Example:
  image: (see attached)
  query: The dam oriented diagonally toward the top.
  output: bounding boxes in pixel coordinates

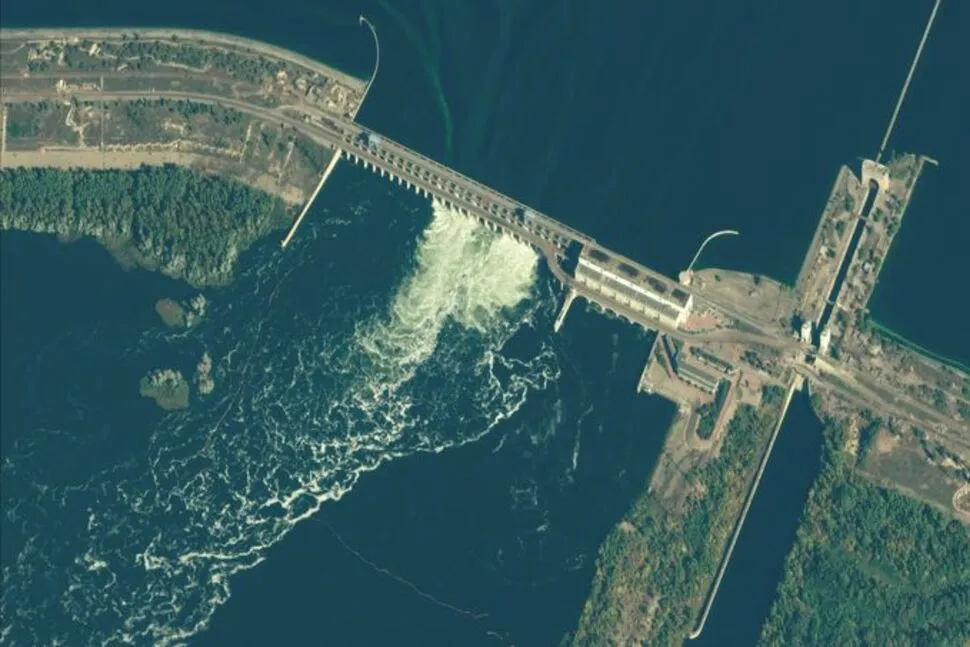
[329,119,691,341]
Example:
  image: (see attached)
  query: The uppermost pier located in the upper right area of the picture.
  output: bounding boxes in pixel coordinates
[884,0,942,148]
